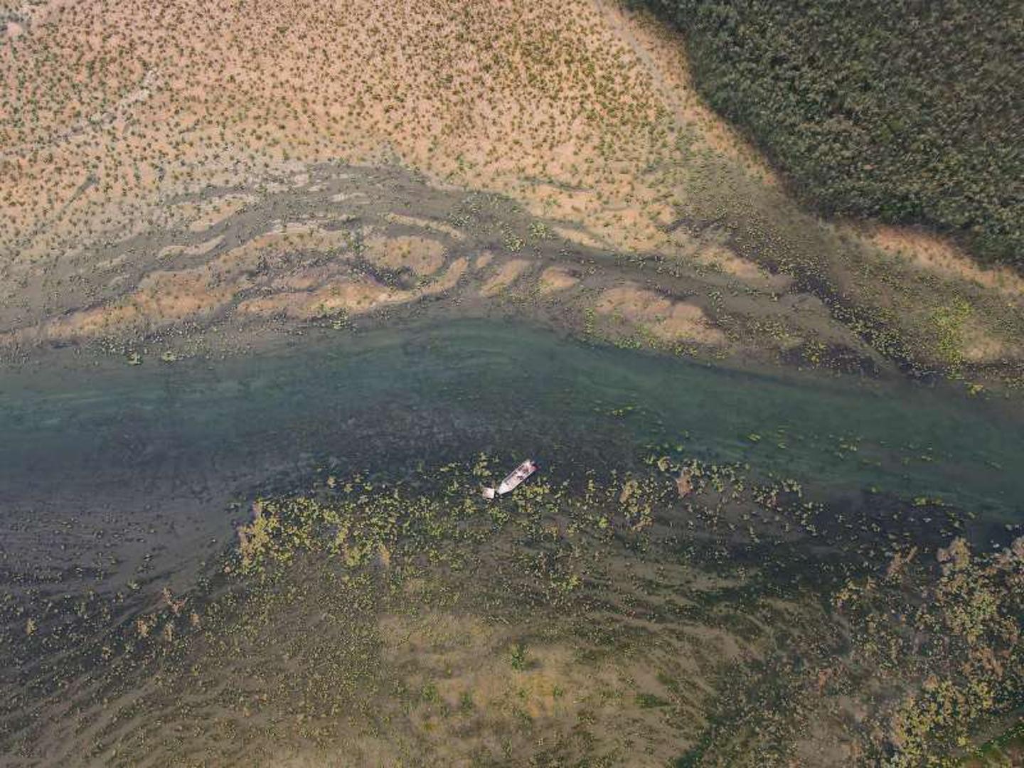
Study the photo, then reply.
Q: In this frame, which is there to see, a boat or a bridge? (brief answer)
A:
boat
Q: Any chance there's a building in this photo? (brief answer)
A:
No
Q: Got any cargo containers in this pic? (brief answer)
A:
No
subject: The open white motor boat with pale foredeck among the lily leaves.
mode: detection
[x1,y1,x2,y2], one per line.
[497,461,537,496]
